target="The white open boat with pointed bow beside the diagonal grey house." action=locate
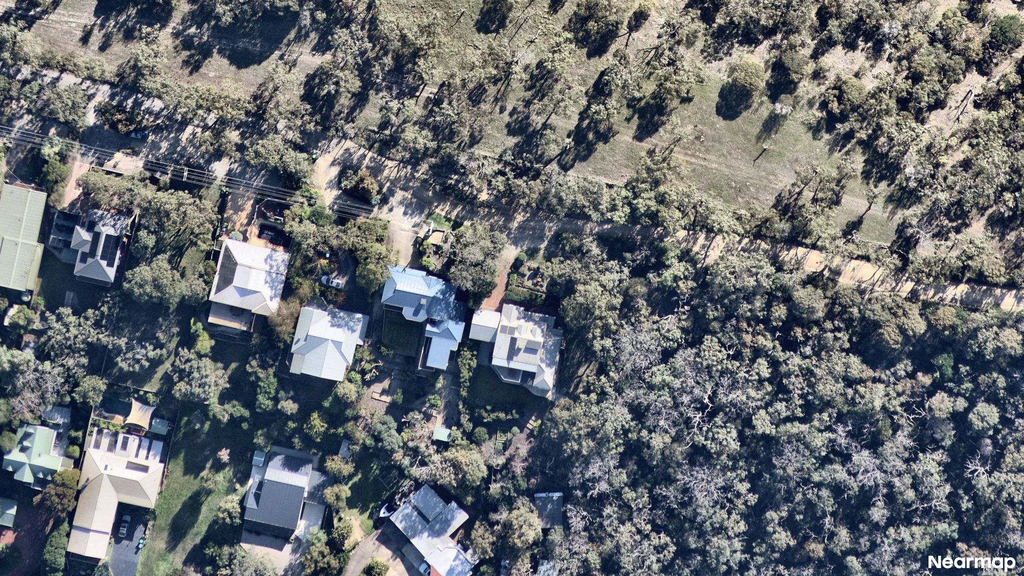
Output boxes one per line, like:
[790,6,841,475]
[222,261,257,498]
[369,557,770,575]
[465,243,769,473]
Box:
[377,499,399,519]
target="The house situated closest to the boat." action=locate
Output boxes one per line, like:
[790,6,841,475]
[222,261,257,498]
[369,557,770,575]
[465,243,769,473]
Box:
[390,486,474,576]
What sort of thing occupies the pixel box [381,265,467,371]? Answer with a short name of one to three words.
house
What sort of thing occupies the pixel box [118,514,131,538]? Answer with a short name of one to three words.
vehicle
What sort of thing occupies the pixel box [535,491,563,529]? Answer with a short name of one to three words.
shed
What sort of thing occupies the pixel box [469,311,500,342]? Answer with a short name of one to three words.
building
